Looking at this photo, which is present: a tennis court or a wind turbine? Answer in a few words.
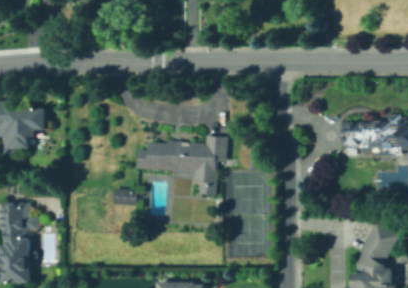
tennis court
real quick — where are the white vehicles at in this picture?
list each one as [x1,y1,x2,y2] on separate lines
[306,164,314,176]
[324,116,335,126]
[352,240,362,248]
[219,114,225,128]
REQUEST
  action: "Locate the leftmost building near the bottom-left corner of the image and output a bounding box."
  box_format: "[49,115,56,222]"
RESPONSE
[0,203,38,284]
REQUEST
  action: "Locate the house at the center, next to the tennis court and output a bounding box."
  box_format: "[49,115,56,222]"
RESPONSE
[138,135,226,196]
